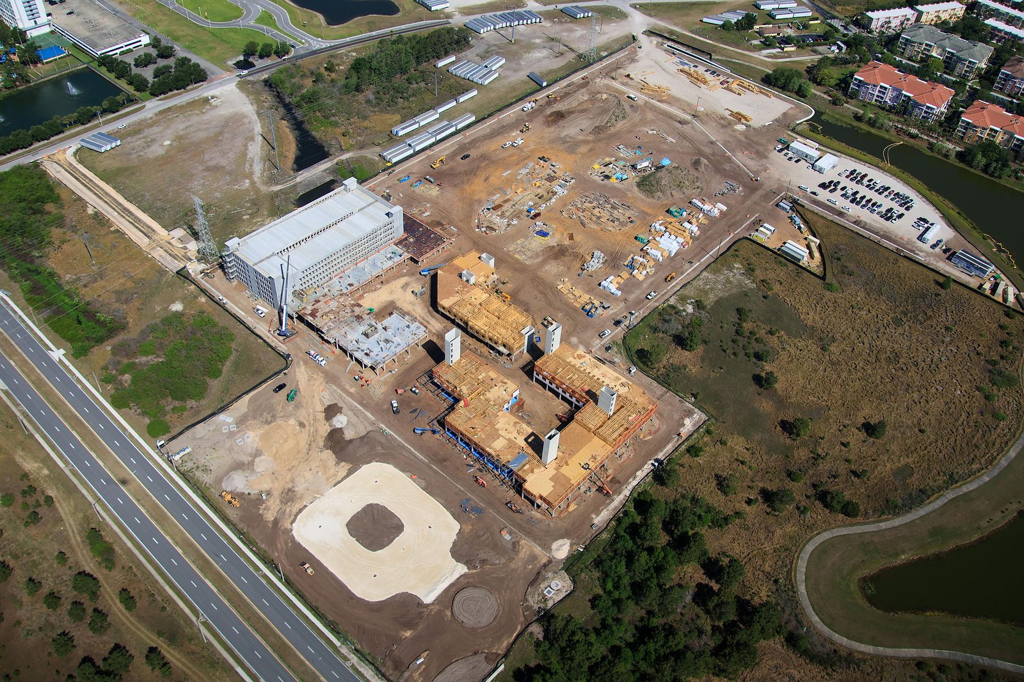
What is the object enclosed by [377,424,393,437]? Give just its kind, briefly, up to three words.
vehicle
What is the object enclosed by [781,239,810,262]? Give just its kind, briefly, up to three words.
building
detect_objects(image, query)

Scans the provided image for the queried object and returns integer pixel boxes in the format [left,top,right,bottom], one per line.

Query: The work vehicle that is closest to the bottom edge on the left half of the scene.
[295,558,314,574]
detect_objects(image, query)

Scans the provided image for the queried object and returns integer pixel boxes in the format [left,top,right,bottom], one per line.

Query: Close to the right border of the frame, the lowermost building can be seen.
[952,245,997,278]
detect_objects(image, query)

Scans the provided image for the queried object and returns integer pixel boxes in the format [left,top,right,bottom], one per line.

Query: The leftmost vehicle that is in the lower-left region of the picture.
[218,488,239,505]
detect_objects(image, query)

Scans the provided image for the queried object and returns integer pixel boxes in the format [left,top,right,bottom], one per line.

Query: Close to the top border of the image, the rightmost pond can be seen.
[291,0,400,26]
